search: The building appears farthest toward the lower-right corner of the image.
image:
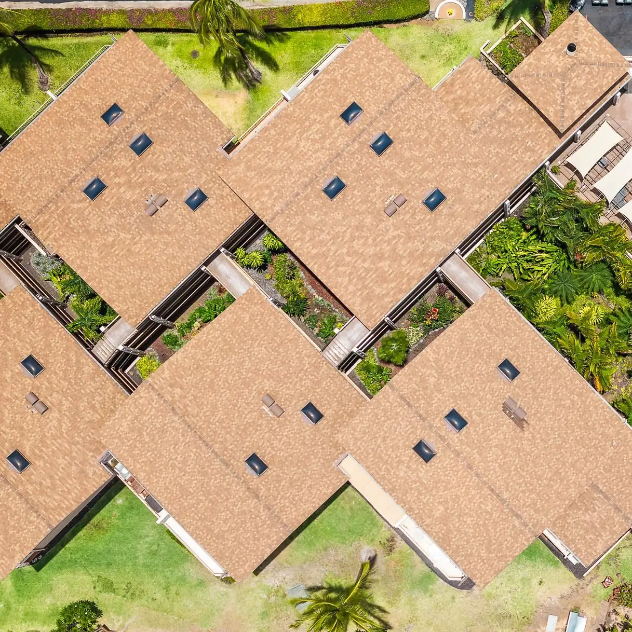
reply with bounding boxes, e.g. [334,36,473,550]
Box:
[332,286,632,589]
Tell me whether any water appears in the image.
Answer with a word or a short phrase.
No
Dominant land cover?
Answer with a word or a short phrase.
buildings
